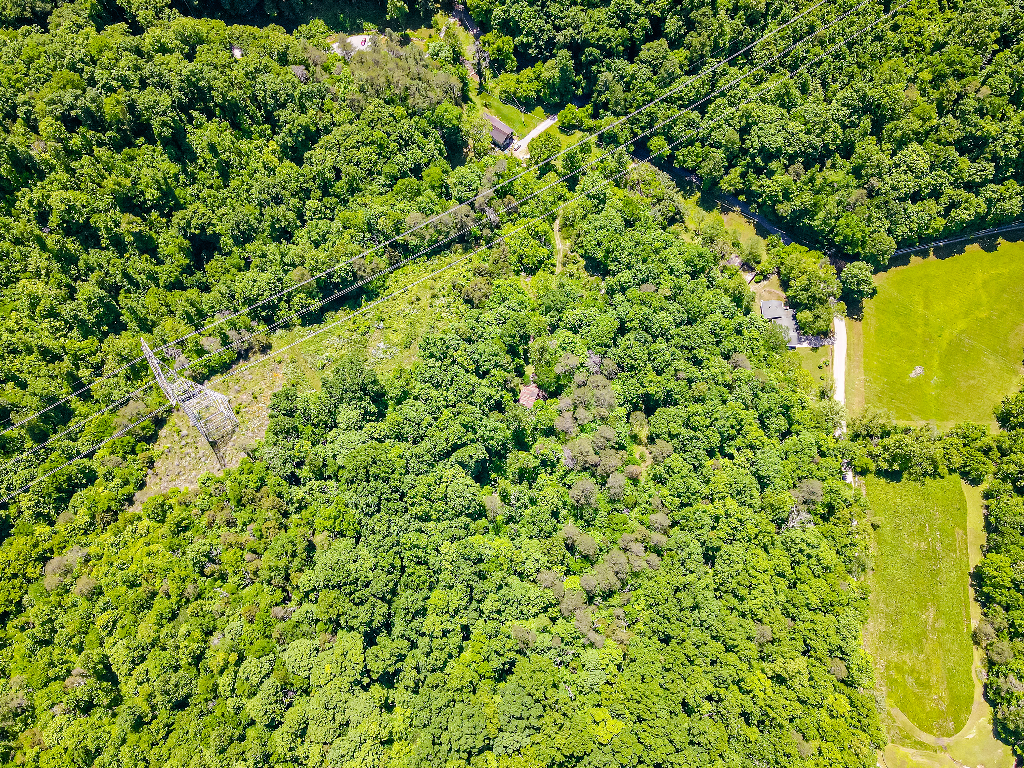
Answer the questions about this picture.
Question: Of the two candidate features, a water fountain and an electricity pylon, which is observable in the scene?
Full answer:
It is an electricity pylon that can be seen here.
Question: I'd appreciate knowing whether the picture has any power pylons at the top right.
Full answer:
No, looking at the top right, there is no power pylon.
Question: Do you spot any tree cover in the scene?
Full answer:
Yes, some tree cover is visible.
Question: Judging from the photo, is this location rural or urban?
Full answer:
The land in this view is best described as rural.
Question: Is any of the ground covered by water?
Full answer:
No, the scene doesn't show any water.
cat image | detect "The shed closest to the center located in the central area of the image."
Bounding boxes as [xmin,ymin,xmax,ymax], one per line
[517,383,541,409]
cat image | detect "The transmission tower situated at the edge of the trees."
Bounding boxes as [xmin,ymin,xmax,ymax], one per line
[143,349,237,439]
